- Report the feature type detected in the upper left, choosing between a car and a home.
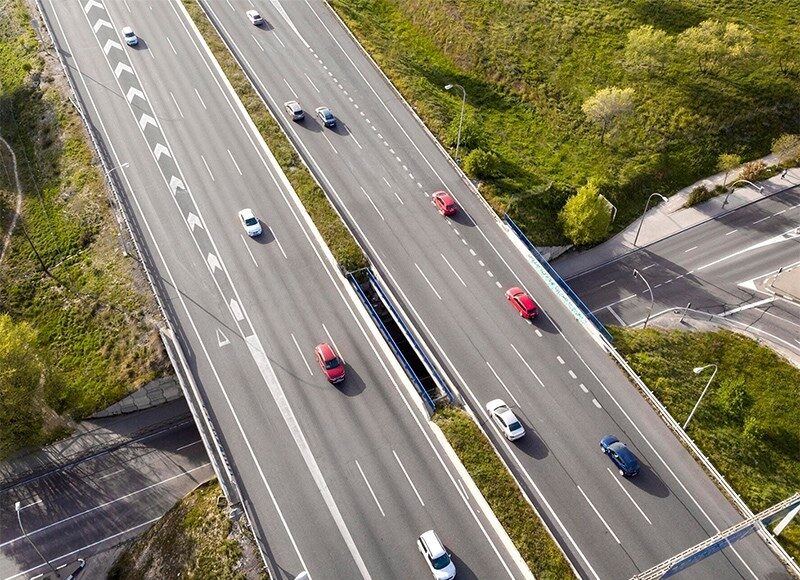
car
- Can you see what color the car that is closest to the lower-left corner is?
red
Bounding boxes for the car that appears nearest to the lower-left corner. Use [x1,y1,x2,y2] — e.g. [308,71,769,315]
[315,342,349,385]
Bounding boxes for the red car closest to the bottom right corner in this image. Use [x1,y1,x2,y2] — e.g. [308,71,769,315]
[507,286,543,320]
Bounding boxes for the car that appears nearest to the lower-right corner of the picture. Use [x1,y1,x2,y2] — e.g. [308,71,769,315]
[602,434,648,482]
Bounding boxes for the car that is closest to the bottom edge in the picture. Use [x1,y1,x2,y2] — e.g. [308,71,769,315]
[417,528,462,580]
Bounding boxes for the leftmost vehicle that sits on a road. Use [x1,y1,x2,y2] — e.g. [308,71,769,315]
[123,27,141,45]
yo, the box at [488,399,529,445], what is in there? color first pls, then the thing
white car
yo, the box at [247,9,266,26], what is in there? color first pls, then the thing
white car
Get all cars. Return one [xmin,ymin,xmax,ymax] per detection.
[507,286,543,320]
[316,107,340,129]
[238,207,264,237]
[247,9,266,26]
[284,99,307,121]
[315,342,349,385]
[434,192,462,217]
[417,528,462,580]
[488,399,529,445]
[602,434,648,482]
[123,27,141,45]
